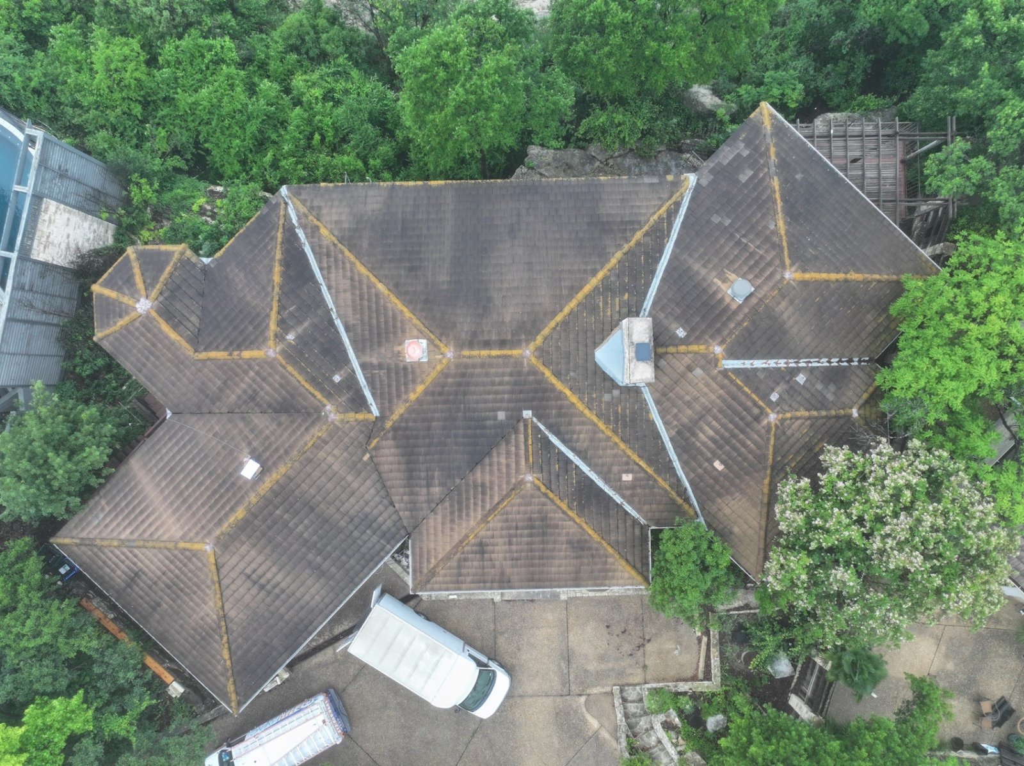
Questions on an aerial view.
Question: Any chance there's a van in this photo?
Yes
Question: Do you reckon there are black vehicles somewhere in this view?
No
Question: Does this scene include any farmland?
No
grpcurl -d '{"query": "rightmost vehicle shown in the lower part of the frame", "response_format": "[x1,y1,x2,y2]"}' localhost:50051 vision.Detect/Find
[329,569,507,717]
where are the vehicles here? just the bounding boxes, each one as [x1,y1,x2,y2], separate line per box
[329,569,507,717]
[215,677,359,766]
